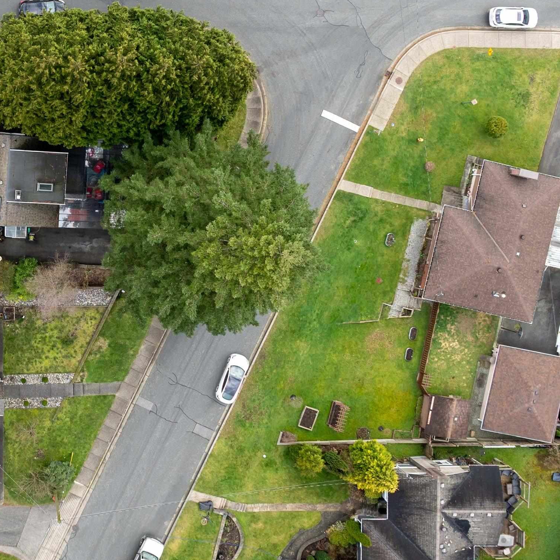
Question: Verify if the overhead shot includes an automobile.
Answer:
Yes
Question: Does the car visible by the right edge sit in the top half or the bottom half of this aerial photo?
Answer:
top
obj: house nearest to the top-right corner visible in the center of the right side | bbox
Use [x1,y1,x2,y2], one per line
[414,159,560,324]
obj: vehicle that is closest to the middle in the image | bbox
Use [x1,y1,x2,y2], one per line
[214,352,249,404]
